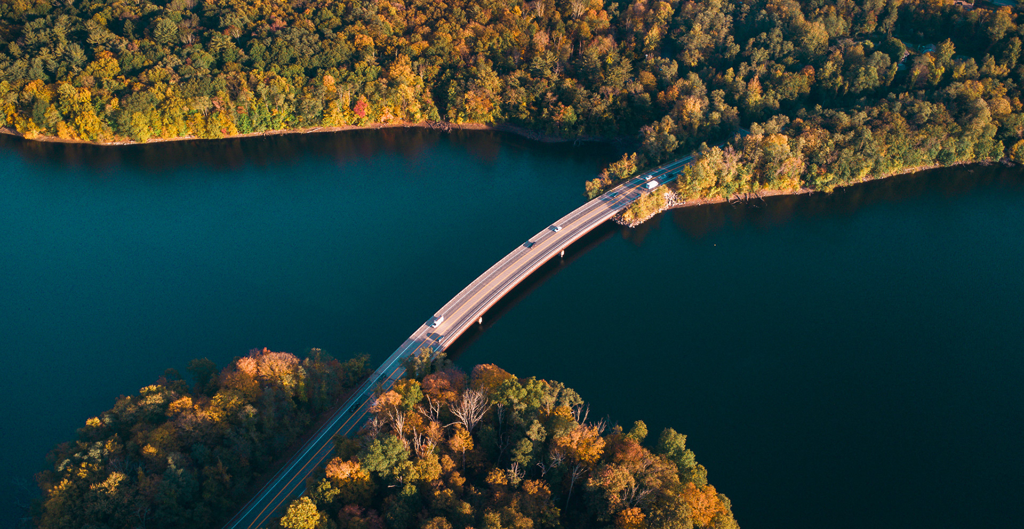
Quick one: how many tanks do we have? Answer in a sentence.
No tanks are visible.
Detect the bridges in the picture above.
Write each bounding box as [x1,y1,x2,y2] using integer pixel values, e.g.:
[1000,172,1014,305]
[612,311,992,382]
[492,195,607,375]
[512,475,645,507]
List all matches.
[378,197,625,381]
